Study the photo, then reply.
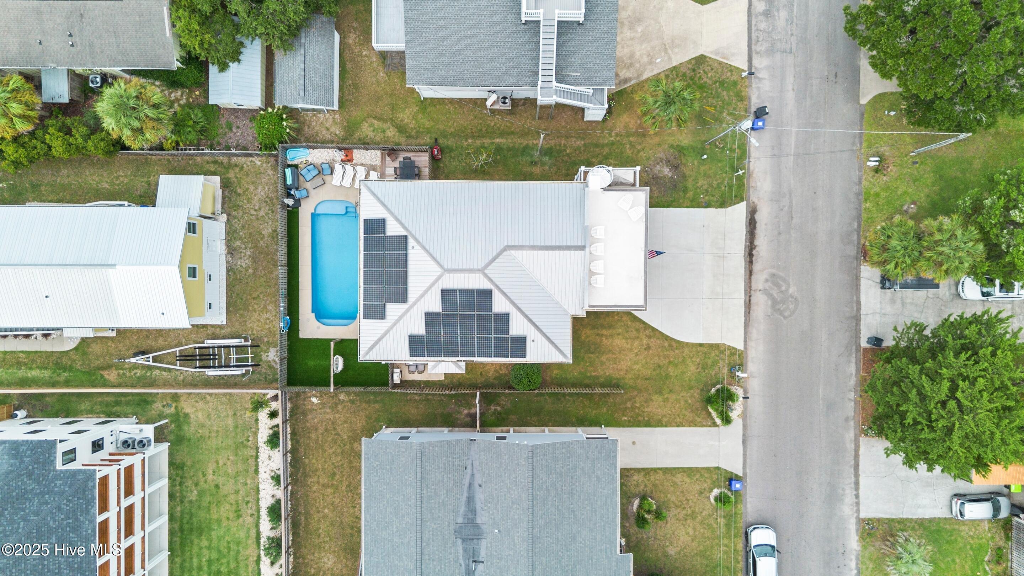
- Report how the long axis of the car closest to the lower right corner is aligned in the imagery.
horizontally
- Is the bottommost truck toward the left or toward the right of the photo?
right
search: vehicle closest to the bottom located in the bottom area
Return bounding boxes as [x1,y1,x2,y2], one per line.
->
[745,524,781,576]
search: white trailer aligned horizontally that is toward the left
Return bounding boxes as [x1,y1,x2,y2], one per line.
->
[114,335,258,380]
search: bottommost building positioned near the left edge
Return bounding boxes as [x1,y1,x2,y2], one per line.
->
[0,414,174,576]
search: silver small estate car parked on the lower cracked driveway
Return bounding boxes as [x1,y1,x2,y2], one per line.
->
[948,492,1008,523]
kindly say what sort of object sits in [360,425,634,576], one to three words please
house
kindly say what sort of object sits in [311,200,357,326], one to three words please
swimming pool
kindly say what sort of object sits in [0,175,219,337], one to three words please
house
